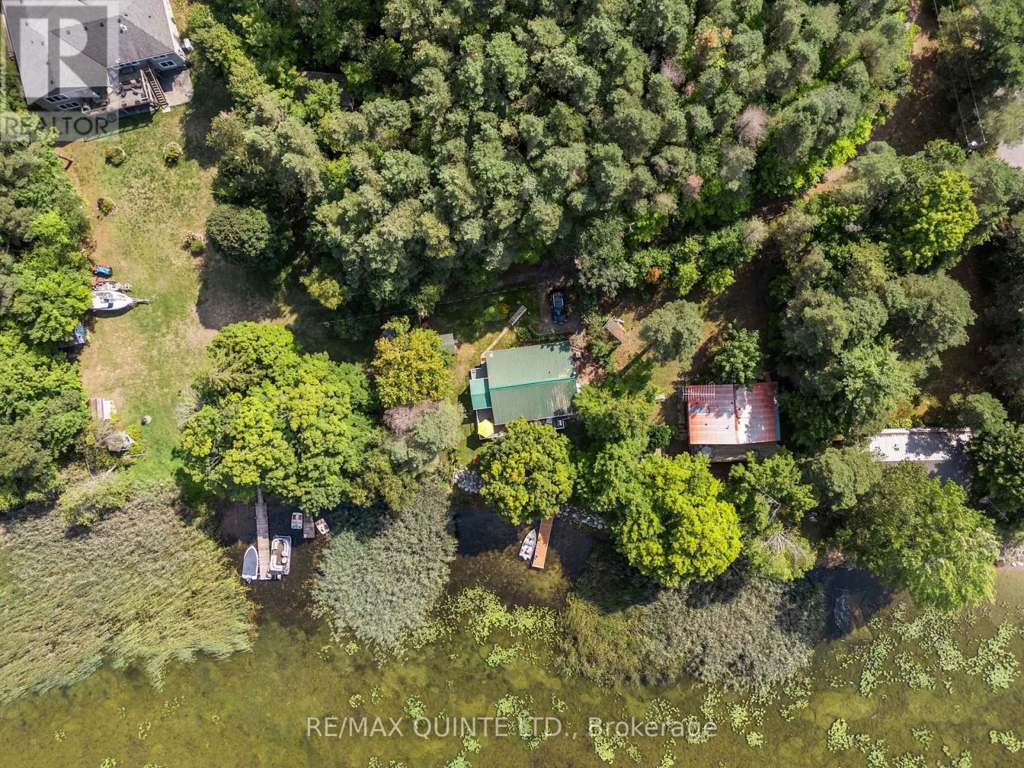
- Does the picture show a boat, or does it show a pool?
boat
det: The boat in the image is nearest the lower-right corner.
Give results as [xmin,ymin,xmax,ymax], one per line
[518,530,535,564]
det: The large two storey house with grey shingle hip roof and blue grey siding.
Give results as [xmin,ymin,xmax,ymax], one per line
[2,0,190,116]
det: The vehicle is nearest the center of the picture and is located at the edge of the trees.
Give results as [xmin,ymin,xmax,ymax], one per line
[551,290,566,324]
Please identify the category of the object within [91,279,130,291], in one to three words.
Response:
boat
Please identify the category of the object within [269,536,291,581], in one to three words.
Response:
boat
